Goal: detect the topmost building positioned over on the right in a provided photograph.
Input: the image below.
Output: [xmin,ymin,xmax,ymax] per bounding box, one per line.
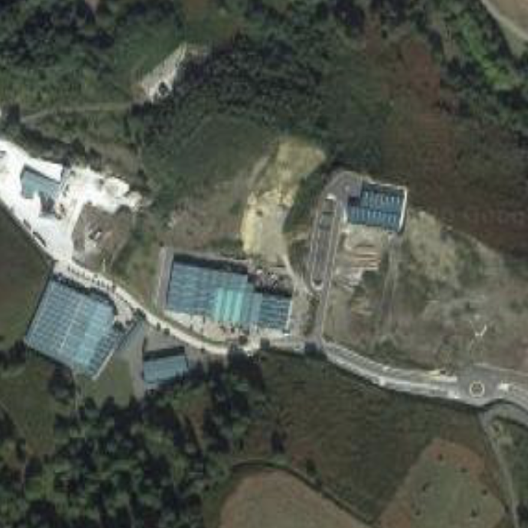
[343,184,408,232]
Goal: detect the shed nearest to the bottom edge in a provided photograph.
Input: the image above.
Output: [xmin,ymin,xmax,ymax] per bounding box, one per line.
[144,355,188,385]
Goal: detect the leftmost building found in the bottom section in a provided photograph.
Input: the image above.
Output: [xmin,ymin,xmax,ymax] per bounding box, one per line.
[25,280,119,379]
